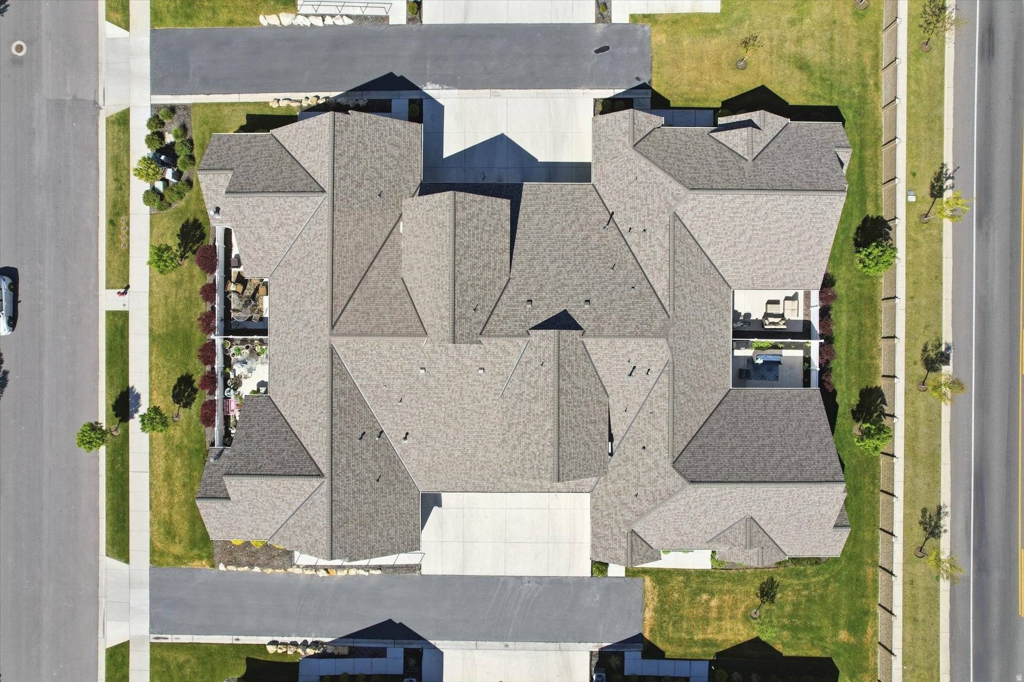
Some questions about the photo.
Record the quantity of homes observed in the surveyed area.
1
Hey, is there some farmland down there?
No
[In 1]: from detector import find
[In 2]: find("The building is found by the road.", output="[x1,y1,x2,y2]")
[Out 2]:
[197,109,852,567]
